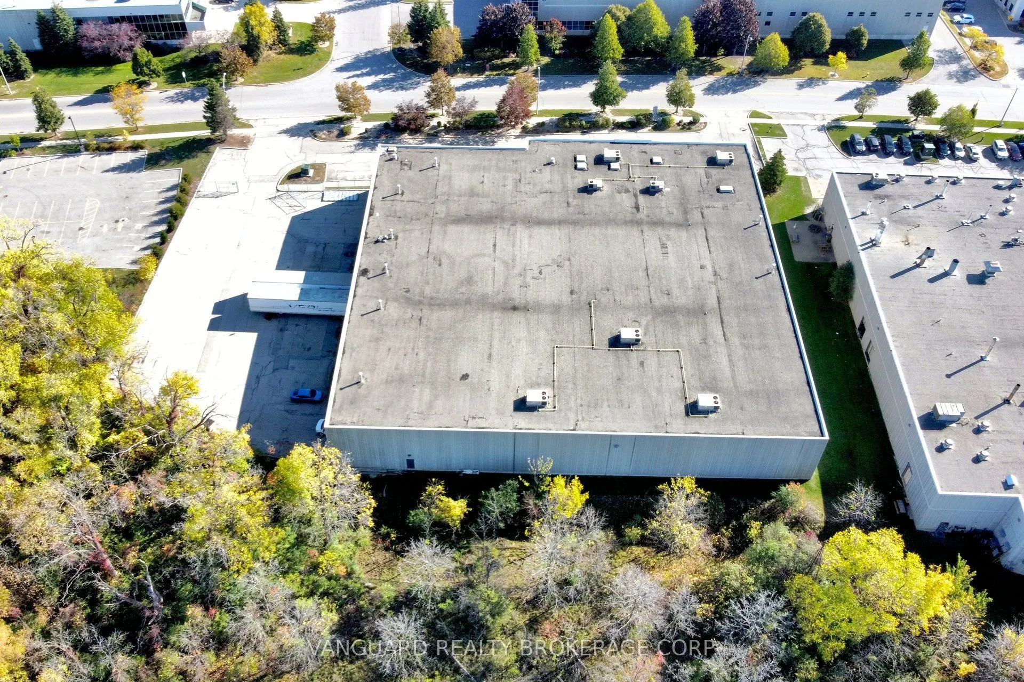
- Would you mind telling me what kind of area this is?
industrial area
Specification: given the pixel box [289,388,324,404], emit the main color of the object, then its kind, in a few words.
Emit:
blue car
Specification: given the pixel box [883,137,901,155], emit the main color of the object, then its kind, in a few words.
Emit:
blue car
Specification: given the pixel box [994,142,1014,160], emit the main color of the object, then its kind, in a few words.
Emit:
white car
